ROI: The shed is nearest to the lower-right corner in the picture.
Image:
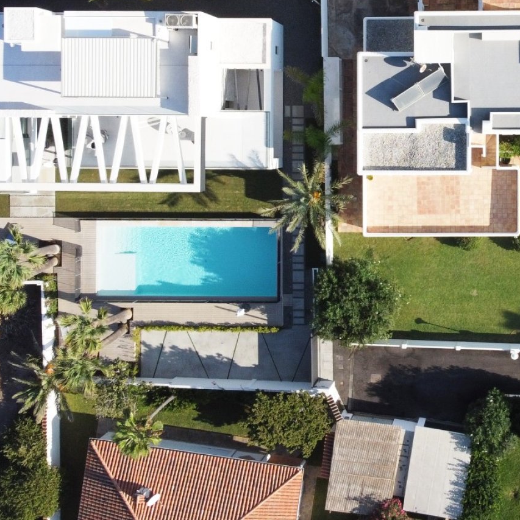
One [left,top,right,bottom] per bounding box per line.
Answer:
[401,423,470,520]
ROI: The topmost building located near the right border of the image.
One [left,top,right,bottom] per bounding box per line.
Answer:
[358,10,520,235]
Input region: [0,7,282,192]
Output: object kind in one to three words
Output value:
house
